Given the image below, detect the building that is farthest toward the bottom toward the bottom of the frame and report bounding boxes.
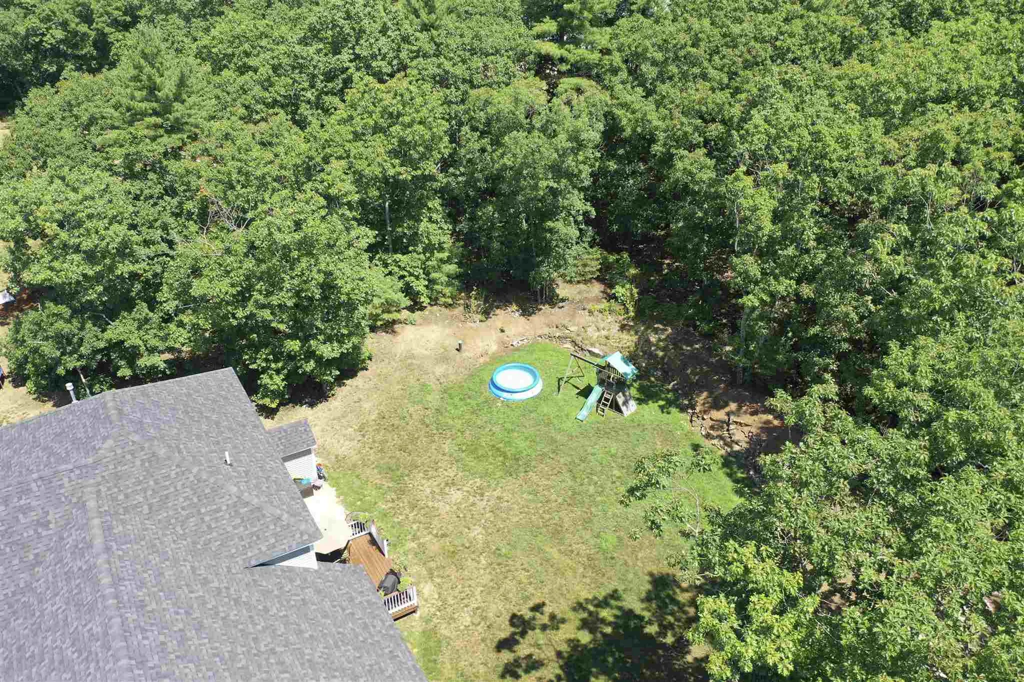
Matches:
[0,367,429,682]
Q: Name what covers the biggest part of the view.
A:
trees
